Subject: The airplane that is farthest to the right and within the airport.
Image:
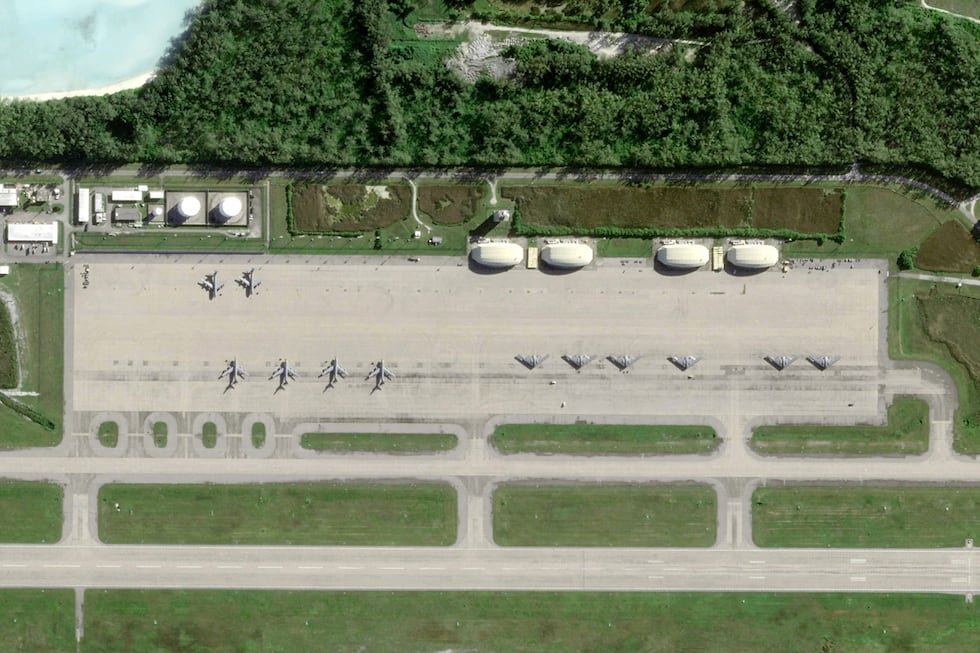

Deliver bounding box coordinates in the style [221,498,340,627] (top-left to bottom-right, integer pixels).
[812,354,839,368]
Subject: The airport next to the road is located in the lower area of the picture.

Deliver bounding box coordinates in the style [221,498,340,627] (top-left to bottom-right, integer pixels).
[0,236,980,653]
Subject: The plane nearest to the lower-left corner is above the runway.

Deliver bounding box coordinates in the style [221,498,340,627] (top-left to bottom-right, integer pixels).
[221,355,250,384]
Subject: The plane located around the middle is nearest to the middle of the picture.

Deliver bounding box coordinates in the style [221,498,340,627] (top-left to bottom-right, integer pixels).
[520,354,548,368]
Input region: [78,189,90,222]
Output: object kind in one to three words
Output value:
building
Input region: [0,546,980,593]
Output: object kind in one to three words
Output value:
runway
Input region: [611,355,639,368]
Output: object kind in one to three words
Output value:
airplane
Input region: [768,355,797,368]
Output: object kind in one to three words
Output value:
airplane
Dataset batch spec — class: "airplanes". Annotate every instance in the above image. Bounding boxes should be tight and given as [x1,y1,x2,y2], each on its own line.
[221,355,250,384]
[567,355,595,368]
[368,358,396,386]
[201,270,230,298]
[322,356,350,384]
[673,355,701,368]
[272,357,301,385]
[520,354,548,368]
[812,354,839,368]
[238,267,267,296]
[611,355,639,368]
[768,355,797,368]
